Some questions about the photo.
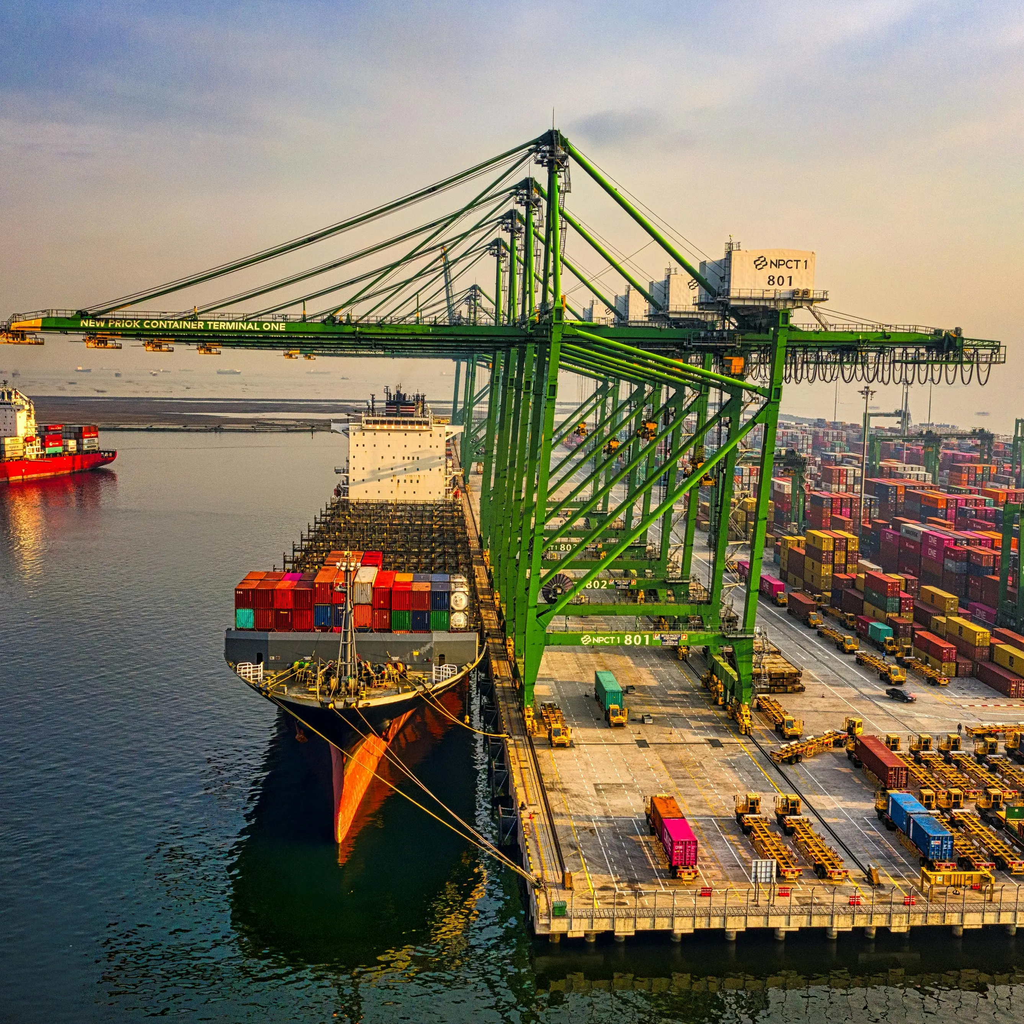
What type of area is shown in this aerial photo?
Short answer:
port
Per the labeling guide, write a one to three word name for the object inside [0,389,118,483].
ship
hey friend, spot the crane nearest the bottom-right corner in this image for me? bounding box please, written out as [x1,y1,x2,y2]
[993,504,1024,634]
